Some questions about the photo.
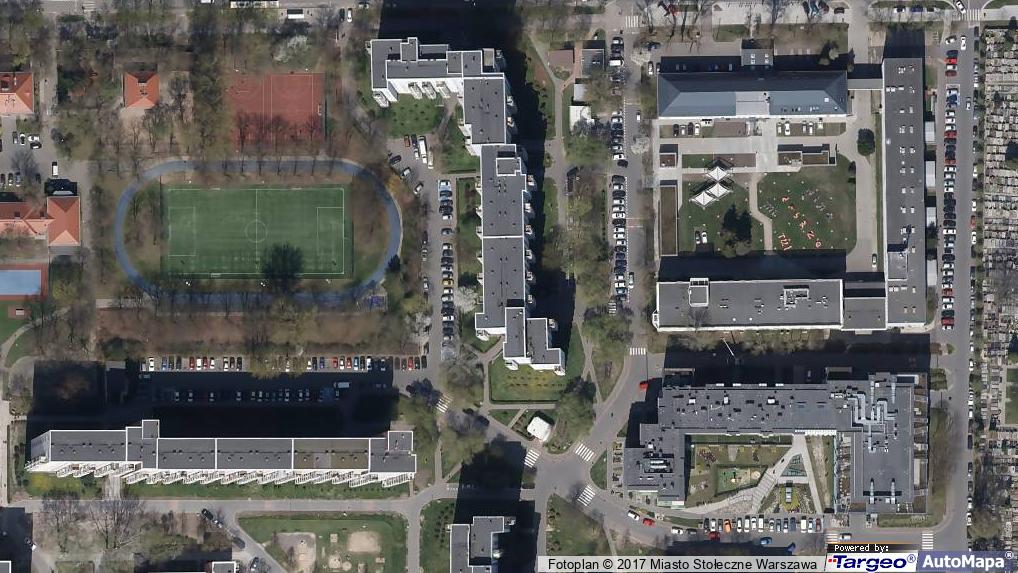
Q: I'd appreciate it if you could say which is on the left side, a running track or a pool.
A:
running track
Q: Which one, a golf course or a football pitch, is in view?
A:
football pitch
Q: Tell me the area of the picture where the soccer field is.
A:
left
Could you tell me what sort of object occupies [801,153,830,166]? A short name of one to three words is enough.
building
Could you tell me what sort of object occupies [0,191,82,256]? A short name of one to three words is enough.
house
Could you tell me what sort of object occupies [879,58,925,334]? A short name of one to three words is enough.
building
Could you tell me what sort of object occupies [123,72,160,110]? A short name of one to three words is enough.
house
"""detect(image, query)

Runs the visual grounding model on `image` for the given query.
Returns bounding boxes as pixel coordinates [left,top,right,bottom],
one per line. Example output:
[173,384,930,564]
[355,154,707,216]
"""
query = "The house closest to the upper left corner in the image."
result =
[0,72,34,115]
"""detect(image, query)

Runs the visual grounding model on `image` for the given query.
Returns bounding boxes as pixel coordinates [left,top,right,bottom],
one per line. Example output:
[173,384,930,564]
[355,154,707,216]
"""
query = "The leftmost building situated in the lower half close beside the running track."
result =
[26,419,417,489]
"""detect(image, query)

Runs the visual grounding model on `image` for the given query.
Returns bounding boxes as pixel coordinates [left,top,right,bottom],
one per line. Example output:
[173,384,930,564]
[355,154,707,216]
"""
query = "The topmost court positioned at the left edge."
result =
[0,263,48,300]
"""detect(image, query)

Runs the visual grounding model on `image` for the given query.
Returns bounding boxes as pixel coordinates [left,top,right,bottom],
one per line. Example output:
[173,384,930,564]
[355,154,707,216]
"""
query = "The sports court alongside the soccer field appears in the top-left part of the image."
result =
[228,73,325,142]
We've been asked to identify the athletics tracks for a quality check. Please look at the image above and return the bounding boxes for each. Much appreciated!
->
[113,158,404,306]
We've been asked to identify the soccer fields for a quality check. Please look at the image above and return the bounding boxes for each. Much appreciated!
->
[161,184,353,278]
